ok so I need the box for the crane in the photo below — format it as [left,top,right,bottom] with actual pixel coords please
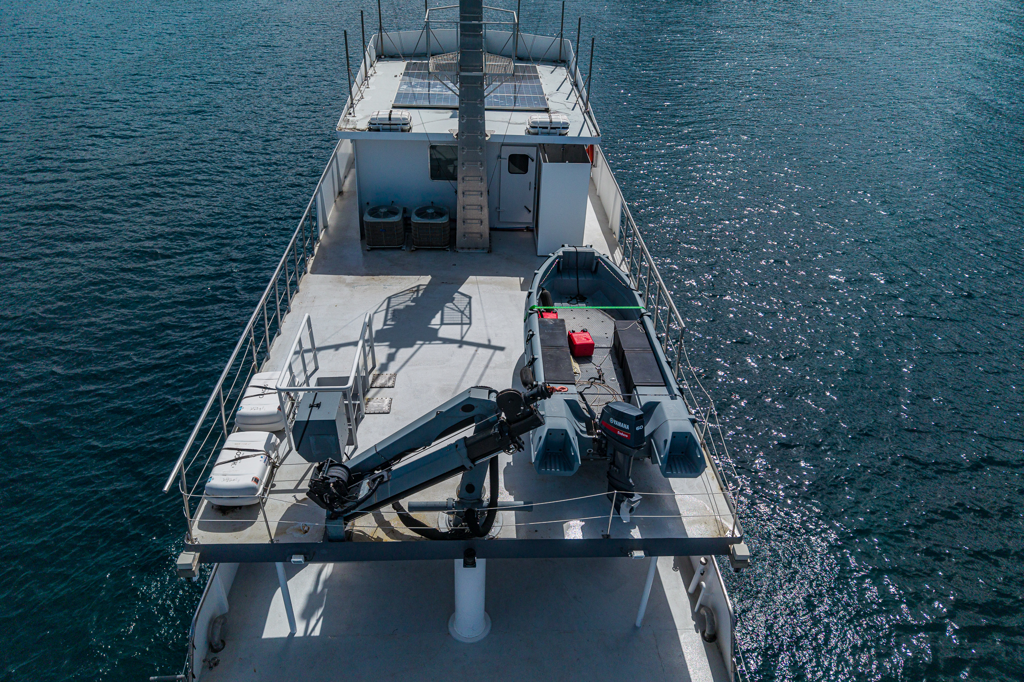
[298,380,558,543]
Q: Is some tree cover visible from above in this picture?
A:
No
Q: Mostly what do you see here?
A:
water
